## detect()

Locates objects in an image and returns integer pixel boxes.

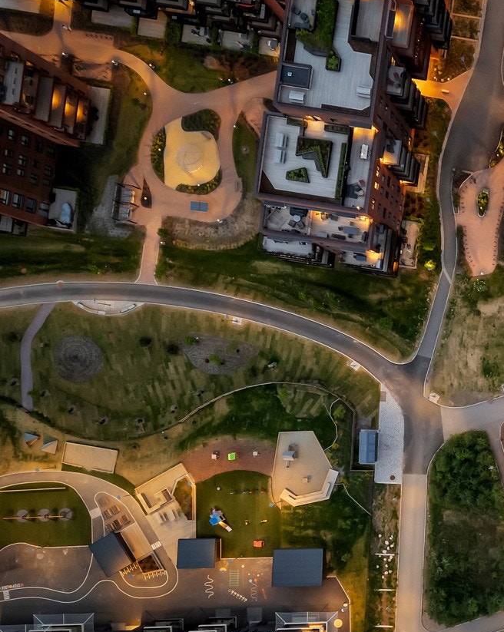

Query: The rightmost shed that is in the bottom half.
[359,429,384,463]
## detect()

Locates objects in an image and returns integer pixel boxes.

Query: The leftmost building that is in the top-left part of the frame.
[0,34,112,237]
